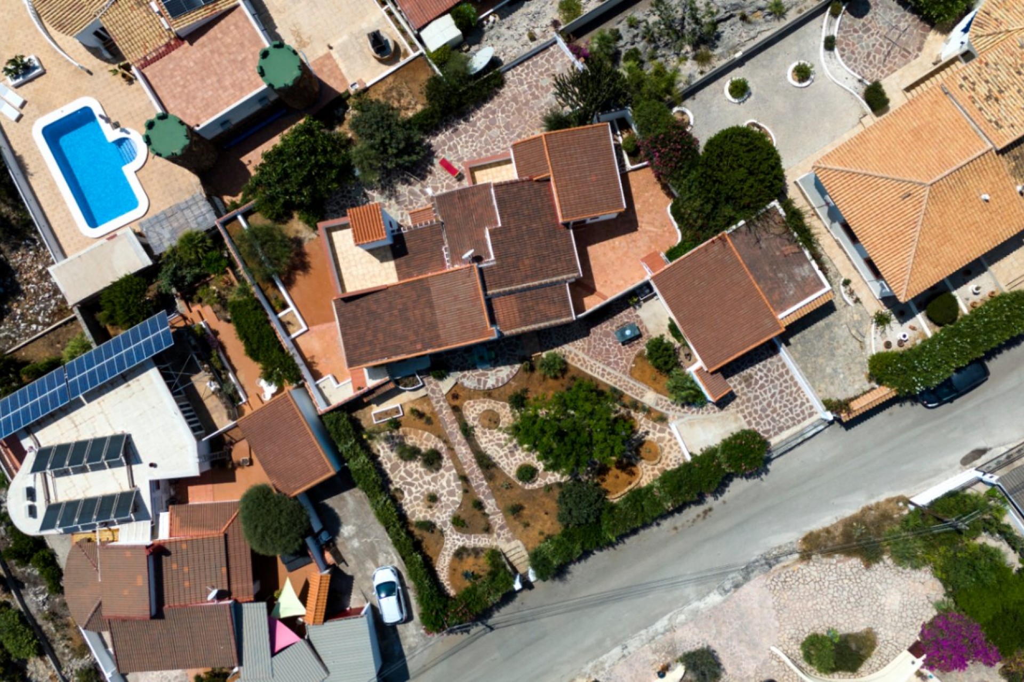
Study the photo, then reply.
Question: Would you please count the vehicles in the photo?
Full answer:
I count 2 vehicles.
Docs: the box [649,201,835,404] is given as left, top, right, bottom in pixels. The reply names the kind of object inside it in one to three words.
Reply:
building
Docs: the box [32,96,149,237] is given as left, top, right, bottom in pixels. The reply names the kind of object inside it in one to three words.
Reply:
swimming pool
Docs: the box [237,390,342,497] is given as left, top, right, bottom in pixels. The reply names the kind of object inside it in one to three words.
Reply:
house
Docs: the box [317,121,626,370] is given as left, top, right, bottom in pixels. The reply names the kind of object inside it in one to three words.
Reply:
house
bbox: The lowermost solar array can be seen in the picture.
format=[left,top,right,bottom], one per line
[40,489,139,532]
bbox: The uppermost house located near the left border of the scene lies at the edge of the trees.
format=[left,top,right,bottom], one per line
[32,0,281,138]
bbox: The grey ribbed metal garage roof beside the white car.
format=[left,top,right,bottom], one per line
[308,600,385,682]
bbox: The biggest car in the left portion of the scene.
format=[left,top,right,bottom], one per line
[373,562,412,628]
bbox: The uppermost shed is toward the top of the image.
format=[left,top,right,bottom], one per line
[404,0,465,39]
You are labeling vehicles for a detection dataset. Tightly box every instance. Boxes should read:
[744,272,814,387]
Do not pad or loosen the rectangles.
[373,562,412,628]
[915,362,992,410]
